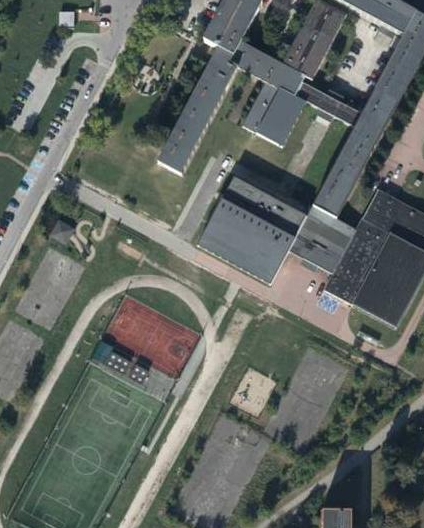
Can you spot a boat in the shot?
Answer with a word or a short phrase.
No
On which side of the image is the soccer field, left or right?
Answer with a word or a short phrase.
left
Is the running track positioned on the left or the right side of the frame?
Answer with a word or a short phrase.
left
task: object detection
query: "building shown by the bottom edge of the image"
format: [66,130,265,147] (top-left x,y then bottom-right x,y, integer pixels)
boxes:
[320,508,353,528]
